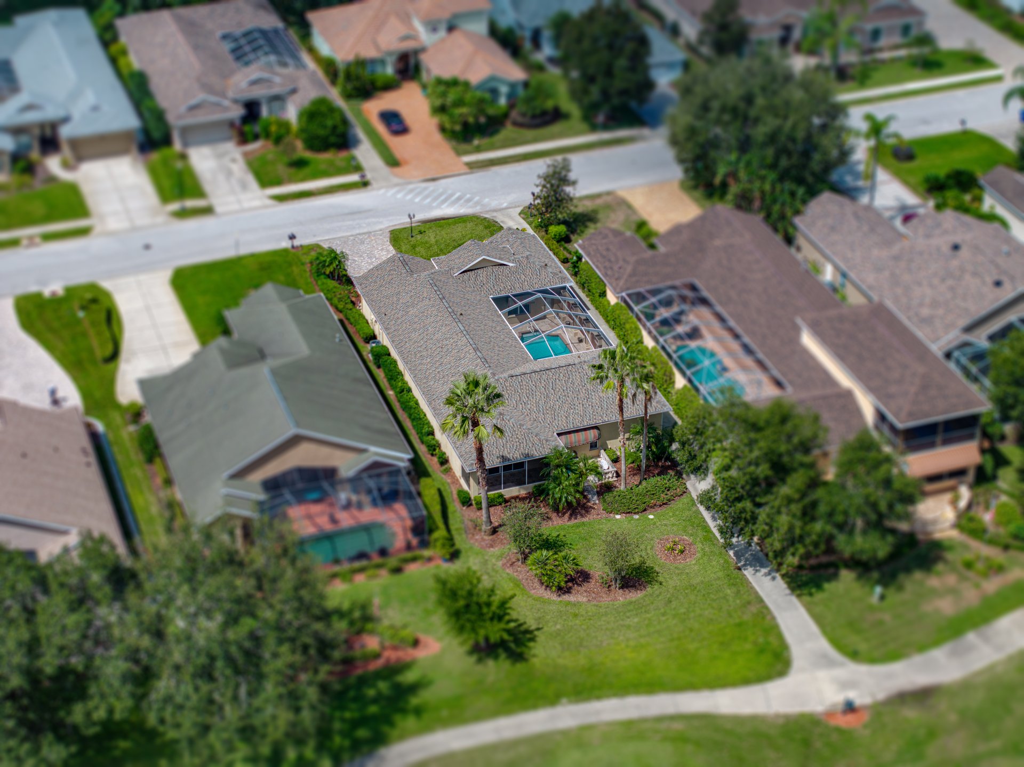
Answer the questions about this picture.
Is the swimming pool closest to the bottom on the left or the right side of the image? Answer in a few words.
left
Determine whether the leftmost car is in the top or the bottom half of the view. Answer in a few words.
top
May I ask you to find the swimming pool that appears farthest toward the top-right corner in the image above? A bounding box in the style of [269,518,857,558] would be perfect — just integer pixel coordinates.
[662,340,754,402]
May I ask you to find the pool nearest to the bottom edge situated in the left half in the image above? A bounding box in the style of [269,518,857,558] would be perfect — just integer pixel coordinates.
[293,520,403,567]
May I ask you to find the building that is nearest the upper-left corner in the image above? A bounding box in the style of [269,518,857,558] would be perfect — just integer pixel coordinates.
[0,0,143,173]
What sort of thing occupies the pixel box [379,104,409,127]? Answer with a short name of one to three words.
car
